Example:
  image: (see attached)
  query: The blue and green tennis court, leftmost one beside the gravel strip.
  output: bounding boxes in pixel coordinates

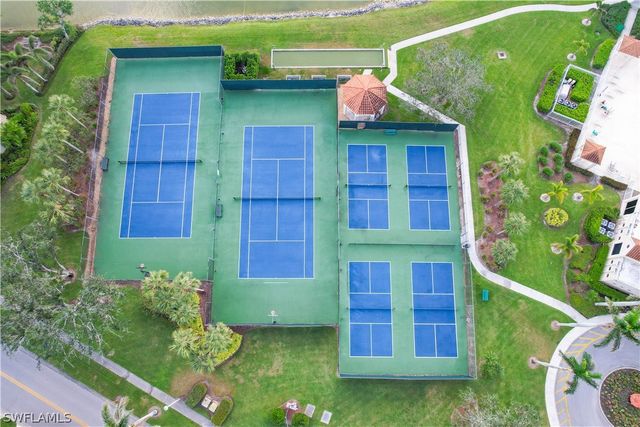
[93,56,222,281]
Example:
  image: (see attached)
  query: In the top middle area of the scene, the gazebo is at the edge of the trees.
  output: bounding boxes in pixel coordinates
[343,75,388,123]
